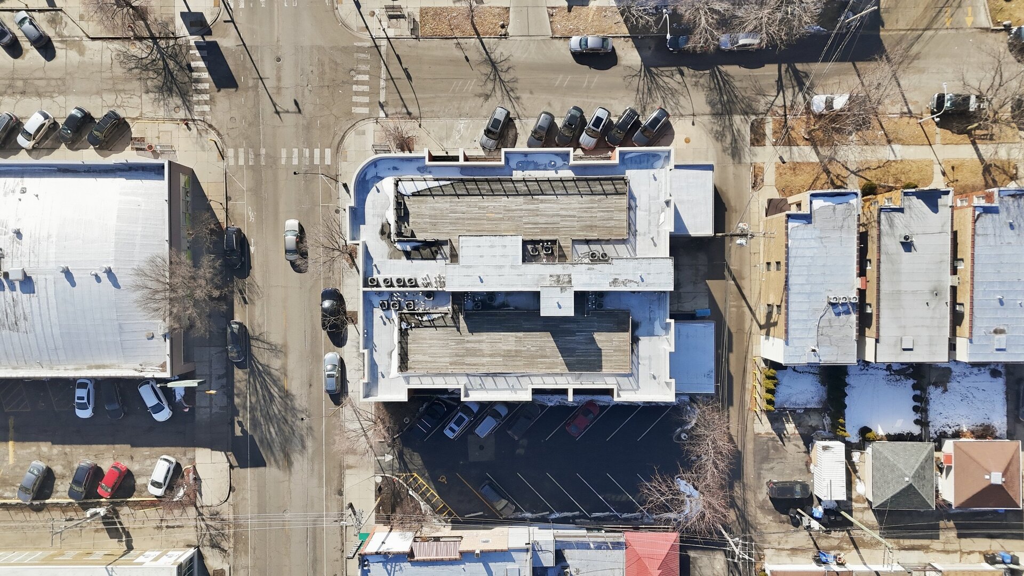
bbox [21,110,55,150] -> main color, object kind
white car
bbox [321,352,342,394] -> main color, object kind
gray car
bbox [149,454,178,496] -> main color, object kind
white car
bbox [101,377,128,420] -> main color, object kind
black car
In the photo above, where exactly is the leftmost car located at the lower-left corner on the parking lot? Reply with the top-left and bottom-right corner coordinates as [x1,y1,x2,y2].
[19,458,50,502]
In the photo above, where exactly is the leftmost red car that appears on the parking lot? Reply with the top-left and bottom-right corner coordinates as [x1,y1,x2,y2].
[100,460,129,498]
